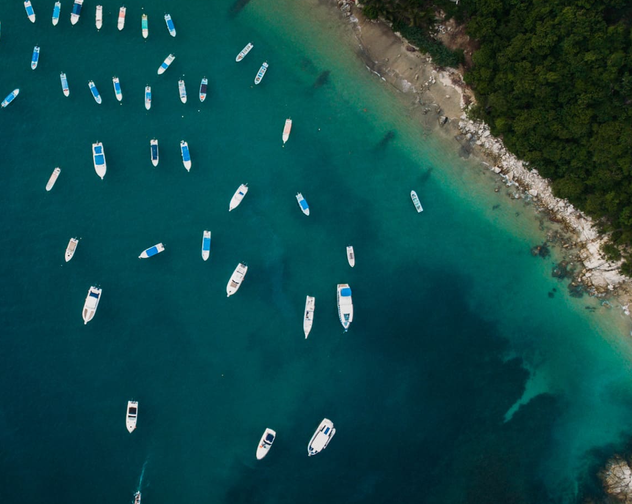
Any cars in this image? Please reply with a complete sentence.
No, no car can be seen from above.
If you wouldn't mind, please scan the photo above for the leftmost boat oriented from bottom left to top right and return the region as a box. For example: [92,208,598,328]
[1,89,20,109]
